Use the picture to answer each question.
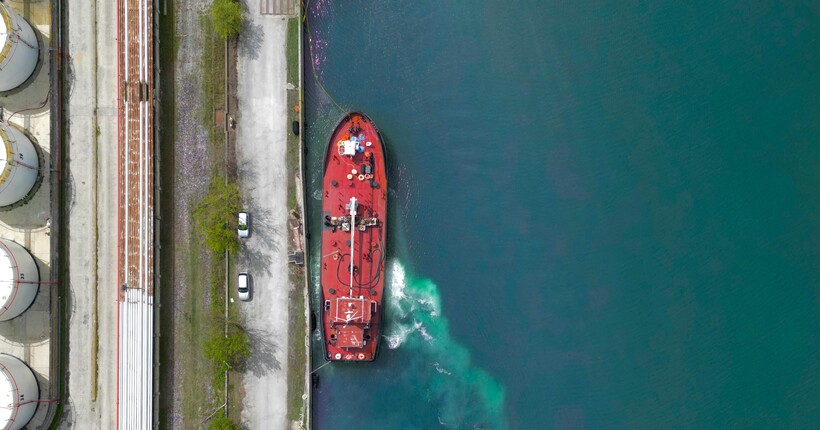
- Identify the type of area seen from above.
industrial area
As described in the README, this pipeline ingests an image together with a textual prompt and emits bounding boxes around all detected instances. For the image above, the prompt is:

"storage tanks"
[0,352,59,430]
[0,119,59,211]
[0,235,59,322]
[0,0,59,97]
